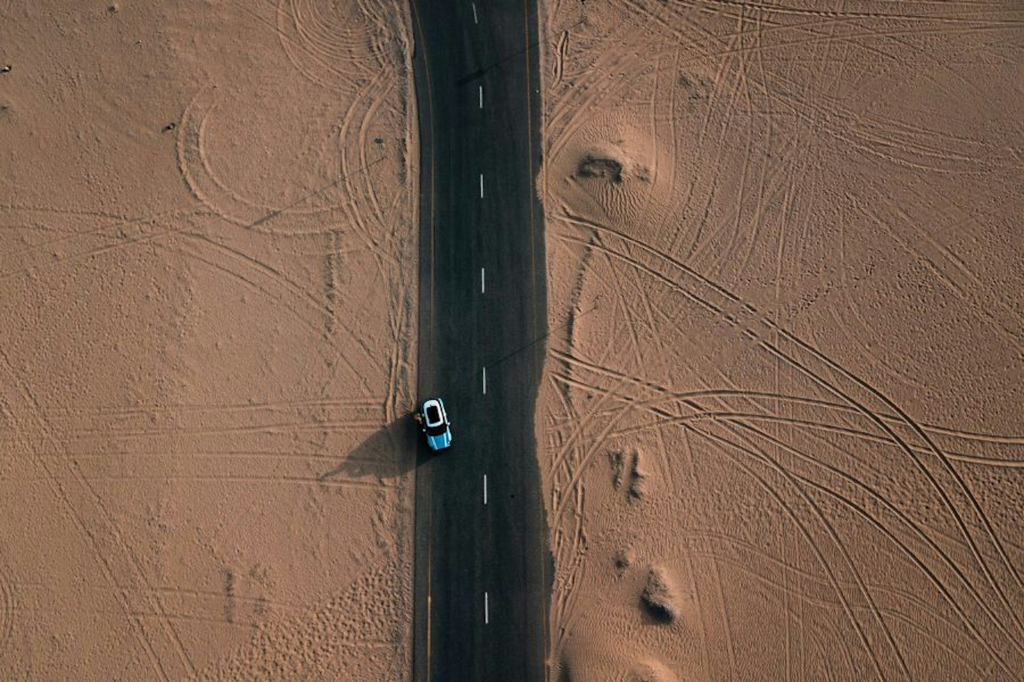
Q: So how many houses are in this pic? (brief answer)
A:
zero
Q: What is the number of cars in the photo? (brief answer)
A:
1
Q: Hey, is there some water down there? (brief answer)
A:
No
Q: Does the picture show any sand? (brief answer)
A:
Yes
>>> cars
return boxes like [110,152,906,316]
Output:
[422,398,453,453]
